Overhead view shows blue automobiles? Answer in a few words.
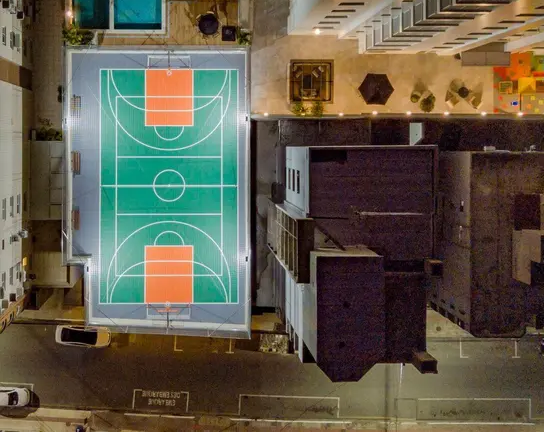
No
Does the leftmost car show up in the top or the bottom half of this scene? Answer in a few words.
bottom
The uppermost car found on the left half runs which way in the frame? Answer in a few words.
from side to side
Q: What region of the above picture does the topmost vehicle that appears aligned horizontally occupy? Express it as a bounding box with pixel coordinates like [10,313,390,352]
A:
[56,324,110,351]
